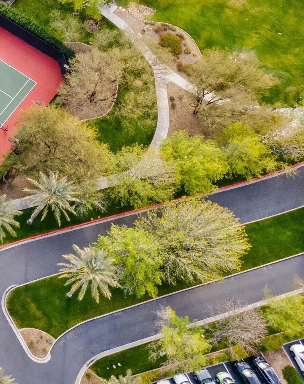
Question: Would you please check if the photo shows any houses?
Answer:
No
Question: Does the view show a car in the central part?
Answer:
No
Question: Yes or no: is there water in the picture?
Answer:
No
